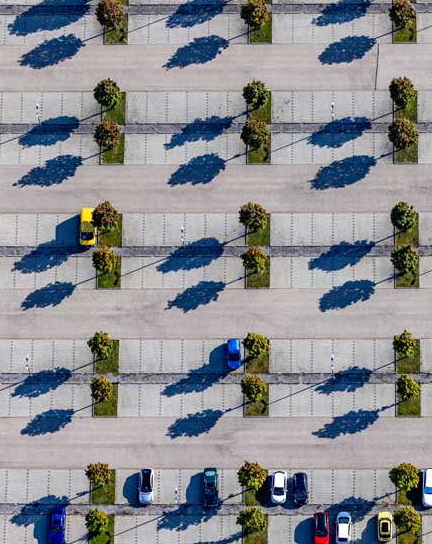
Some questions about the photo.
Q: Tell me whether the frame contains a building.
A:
No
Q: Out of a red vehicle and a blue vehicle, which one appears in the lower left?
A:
blue vehicle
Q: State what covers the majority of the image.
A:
paved ground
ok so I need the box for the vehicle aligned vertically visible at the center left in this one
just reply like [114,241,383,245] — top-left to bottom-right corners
[78,207,96,247]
